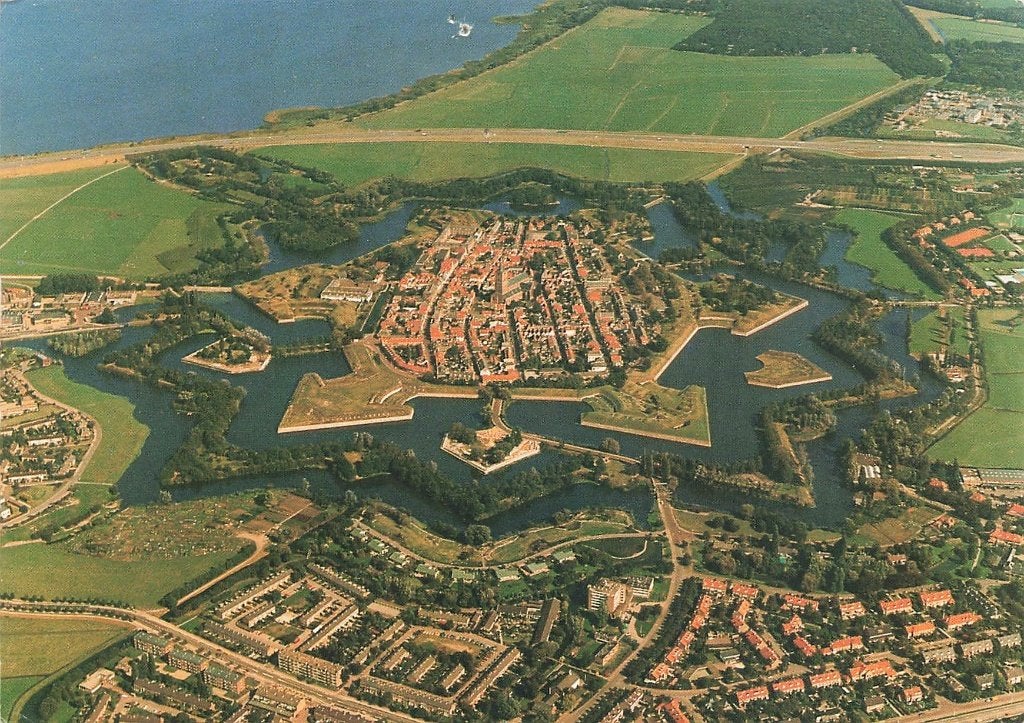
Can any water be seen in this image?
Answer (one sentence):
Yes, the picture does contain water.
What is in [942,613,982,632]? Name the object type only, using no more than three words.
house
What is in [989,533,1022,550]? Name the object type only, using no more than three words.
house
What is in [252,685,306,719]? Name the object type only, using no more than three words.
building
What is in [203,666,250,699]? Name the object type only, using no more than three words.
building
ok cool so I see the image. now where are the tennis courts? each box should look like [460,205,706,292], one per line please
[956,247,994,256]
[945,227,990,247]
